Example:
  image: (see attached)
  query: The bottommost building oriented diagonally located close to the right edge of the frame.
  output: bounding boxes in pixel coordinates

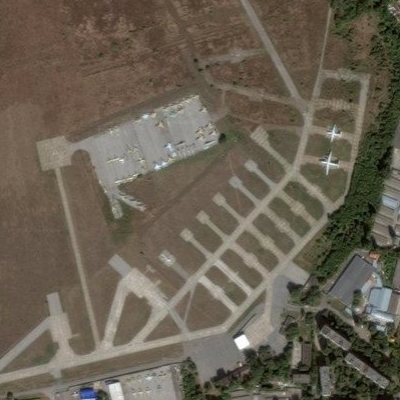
[345,354,389,388]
